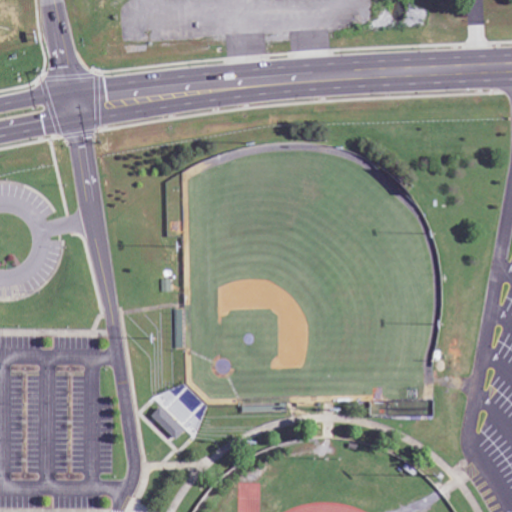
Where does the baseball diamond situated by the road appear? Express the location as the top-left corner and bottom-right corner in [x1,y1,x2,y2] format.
[170,142,442,413]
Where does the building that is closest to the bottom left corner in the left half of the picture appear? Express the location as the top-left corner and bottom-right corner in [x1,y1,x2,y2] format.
[151,406,184,440]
